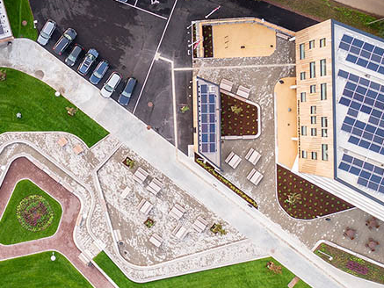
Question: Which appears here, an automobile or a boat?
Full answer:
Looking from above, you can make out an automobile.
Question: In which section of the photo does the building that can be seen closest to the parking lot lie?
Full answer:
The building that can be seen closest to the parking lot is located in the center region of the scene.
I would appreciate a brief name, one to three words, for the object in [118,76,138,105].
car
